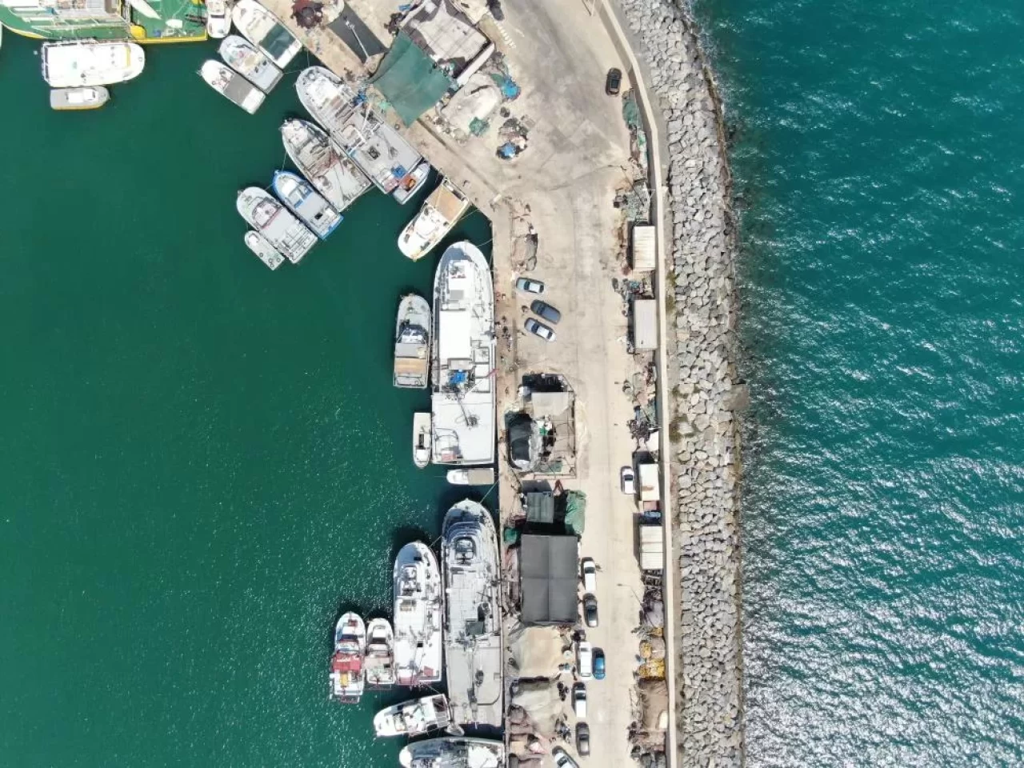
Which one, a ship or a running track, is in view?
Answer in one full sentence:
The image shows a ship.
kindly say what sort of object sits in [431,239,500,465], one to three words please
ship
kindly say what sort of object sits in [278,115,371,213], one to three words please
boat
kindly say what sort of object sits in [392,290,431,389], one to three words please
boat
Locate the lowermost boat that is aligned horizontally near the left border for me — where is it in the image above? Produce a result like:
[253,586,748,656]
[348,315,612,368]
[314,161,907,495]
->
[50,87,110,111]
